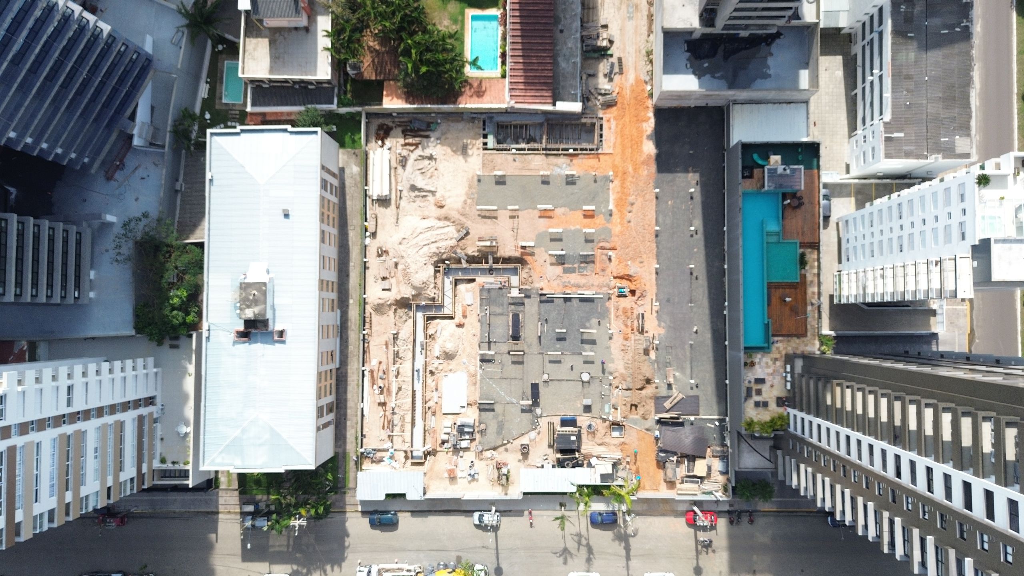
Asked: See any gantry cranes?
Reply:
No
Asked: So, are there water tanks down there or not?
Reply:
Yes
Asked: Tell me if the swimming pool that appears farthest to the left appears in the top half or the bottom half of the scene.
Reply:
top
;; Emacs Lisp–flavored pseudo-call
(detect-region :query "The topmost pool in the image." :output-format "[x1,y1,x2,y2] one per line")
[464,8,501,77]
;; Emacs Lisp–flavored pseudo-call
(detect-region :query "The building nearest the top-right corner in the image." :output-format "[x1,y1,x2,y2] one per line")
[819,0,979,177]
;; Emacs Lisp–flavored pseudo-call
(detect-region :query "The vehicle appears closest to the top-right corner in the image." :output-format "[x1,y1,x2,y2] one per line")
[820,189,836,218]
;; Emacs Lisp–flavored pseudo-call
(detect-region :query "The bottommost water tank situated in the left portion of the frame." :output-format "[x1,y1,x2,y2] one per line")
[239,282,273,319]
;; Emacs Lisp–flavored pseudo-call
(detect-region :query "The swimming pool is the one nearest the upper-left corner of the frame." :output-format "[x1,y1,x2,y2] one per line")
[215,55,246,109]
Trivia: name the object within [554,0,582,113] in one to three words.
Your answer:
building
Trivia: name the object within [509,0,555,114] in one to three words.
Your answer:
building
